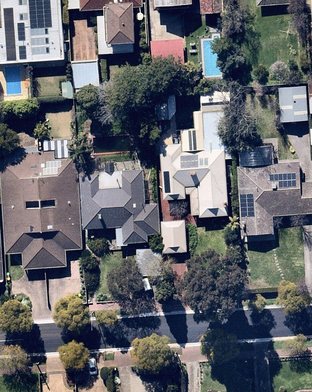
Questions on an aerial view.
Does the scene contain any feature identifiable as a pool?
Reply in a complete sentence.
Yes, the picture does show a pool.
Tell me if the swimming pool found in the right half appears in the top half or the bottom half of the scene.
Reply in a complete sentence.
You can find the swimming pool found in the right half in the top half.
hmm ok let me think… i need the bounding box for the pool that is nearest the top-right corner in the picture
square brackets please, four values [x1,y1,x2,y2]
[202,34,224,77]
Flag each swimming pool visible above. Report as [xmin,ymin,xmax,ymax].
[3,64,23,96]
[202,34,224,77]
[92,133,133,155]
